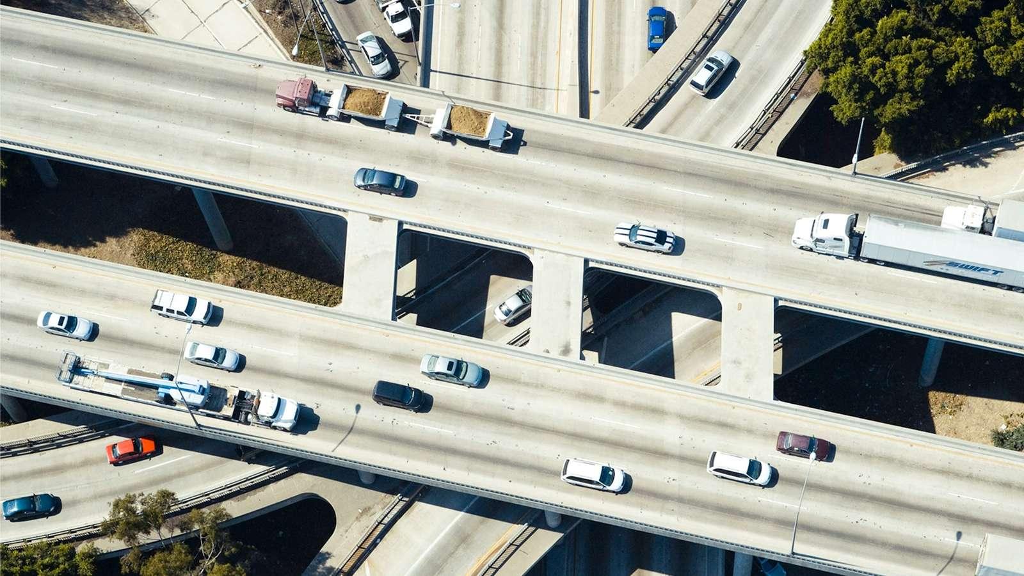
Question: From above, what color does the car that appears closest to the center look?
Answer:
white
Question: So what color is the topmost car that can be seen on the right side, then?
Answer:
blue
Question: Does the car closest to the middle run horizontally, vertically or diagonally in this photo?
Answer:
diagonally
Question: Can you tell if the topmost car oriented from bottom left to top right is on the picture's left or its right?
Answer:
right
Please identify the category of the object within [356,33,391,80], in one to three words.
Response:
car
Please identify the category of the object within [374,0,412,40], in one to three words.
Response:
truck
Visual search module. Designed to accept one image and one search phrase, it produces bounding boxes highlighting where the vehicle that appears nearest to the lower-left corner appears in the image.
[2,494,58,523]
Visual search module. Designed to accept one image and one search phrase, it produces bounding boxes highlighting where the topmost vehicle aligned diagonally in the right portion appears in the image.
[689,53,734,98]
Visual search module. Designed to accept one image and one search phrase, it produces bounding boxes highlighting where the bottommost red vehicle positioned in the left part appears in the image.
[105,437,159,467]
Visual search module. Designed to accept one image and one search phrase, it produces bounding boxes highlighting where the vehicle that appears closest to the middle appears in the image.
[491,284,533,329]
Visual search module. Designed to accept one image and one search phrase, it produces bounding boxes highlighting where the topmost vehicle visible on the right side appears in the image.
[646,8,667,53]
